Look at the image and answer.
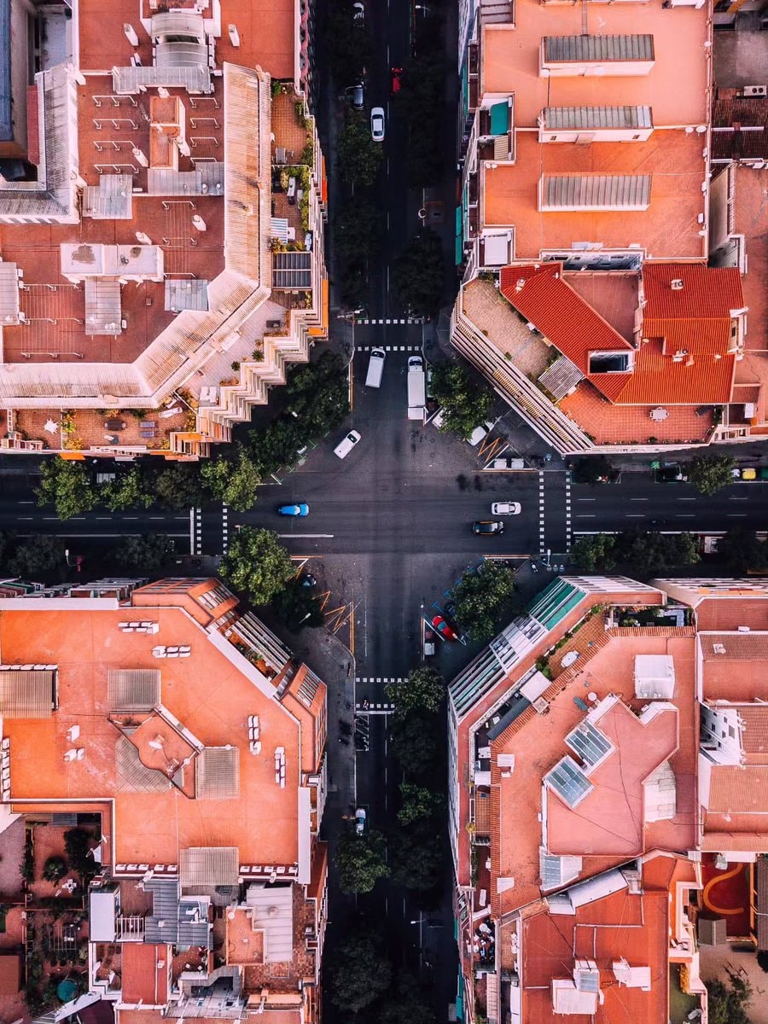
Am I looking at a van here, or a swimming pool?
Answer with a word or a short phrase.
van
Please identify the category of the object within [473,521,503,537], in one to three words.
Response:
car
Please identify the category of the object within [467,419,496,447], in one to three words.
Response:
van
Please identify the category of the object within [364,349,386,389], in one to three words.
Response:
vehicle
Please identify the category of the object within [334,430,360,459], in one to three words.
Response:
vehicle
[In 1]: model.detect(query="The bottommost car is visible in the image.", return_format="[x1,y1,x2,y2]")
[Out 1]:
[353,805,368,834]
